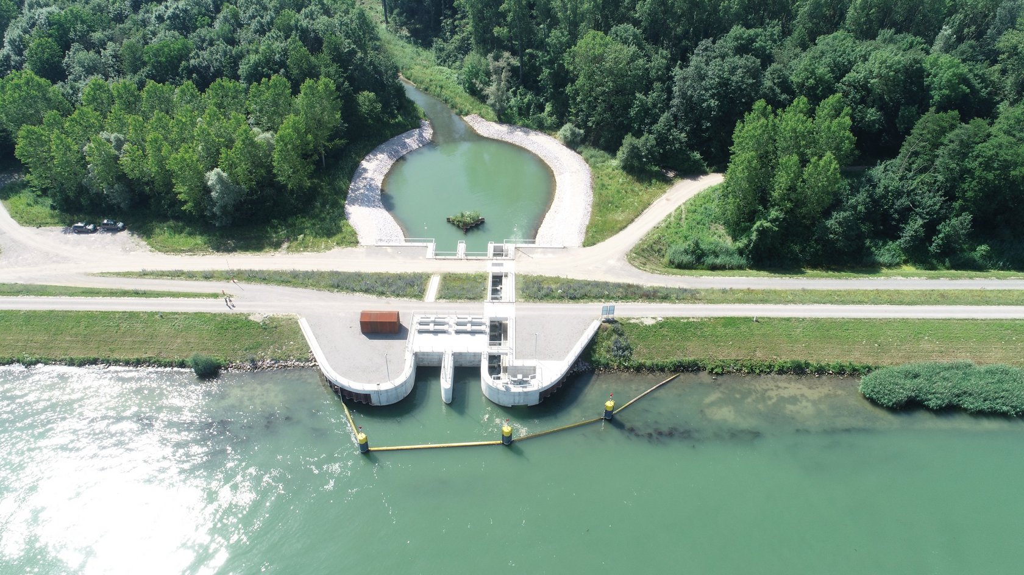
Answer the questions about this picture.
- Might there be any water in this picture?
Yes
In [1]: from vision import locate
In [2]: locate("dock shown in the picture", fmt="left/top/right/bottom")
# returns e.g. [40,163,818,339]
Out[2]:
[439,349,453,404]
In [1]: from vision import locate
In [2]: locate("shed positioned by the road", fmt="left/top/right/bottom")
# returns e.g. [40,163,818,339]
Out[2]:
[359,309,398,333]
